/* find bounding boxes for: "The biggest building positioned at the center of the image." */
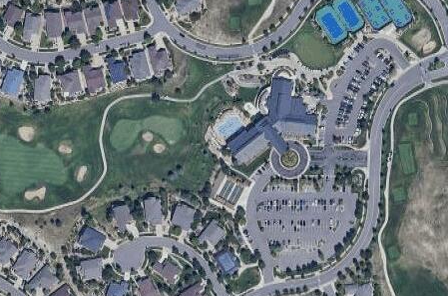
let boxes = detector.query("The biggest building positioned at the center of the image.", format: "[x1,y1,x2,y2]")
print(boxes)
[224,76,318,165]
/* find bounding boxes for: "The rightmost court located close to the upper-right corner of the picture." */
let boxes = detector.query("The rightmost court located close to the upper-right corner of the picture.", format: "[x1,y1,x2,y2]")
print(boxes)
[380,0,412,27]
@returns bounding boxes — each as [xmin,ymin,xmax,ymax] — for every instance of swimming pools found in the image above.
[204,103,258,182]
